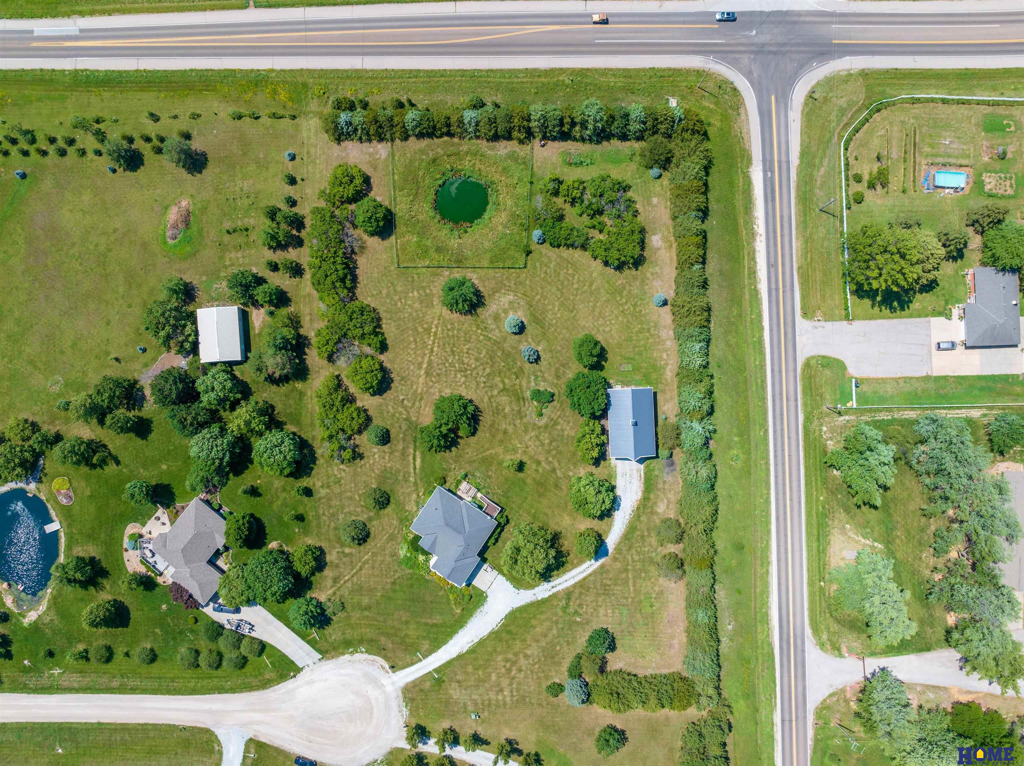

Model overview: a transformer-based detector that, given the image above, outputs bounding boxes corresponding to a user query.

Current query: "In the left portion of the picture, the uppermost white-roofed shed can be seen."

[196,306,247,363]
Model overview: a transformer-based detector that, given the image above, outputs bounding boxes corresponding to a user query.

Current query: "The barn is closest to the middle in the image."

[607,388,656,462]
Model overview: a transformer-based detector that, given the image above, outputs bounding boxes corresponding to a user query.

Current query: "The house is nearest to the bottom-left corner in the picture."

[152,497,227,606]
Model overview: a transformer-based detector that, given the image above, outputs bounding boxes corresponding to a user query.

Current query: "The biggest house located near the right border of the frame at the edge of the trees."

[960,267,1021,347]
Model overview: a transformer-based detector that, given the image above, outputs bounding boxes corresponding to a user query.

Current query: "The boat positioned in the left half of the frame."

[226,621,251,636]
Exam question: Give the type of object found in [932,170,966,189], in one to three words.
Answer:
swimming pool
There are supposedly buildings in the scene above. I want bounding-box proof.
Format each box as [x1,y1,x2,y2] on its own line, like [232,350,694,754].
[409,486,498,589]
[196,306,247,363]
[152,497,227,606]
[960,267,1021,347]
[607,388,656,462]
